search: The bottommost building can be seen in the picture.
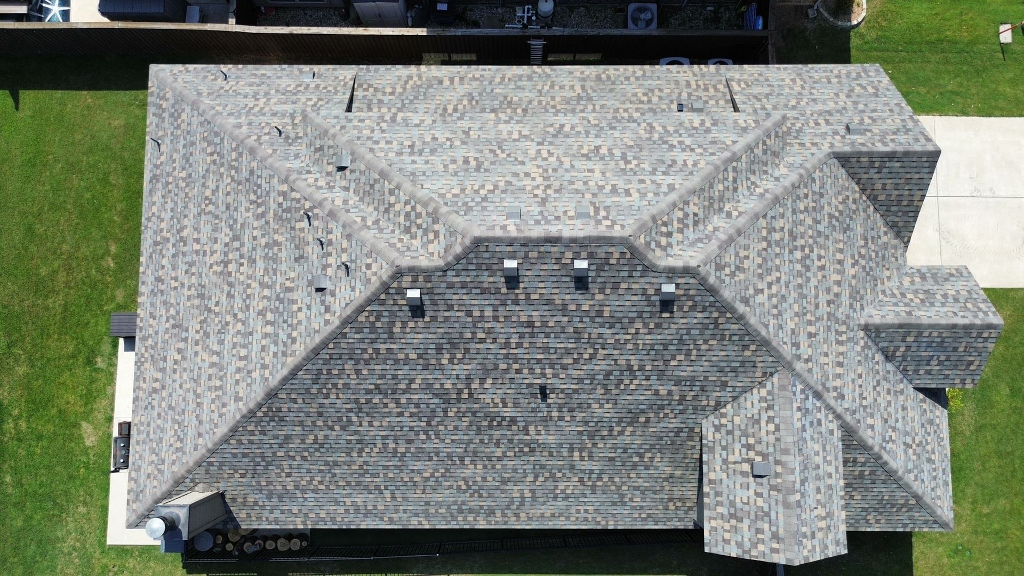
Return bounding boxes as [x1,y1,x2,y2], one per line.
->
[126,64,1003,566]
